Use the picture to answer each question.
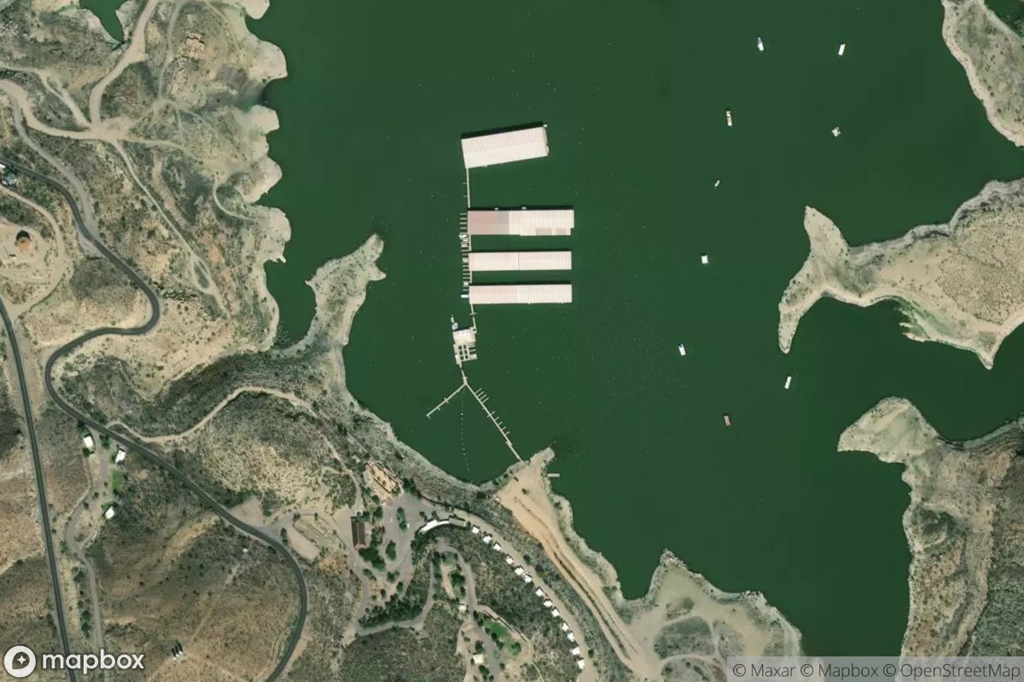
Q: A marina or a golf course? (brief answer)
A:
marina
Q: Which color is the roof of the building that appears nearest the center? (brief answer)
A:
white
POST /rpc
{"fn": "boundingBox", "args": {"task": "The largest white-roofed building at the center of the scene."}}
[453,329,478,363]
